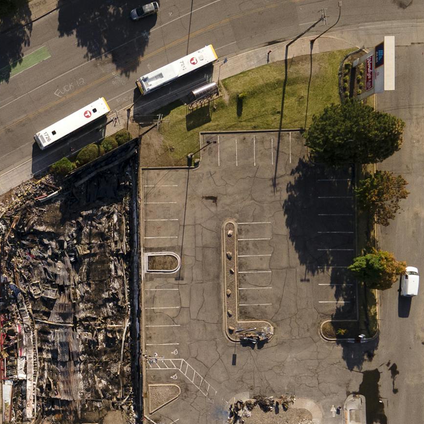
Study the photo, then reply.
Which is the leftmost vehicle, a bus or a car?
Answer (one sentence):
Specifically, the leftmost vehicle is a bus.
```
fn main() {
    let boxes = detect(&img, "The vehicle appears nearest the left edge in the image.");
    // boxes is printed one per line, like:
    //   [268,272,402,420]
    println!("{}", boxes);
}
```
[33,93,115,152]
